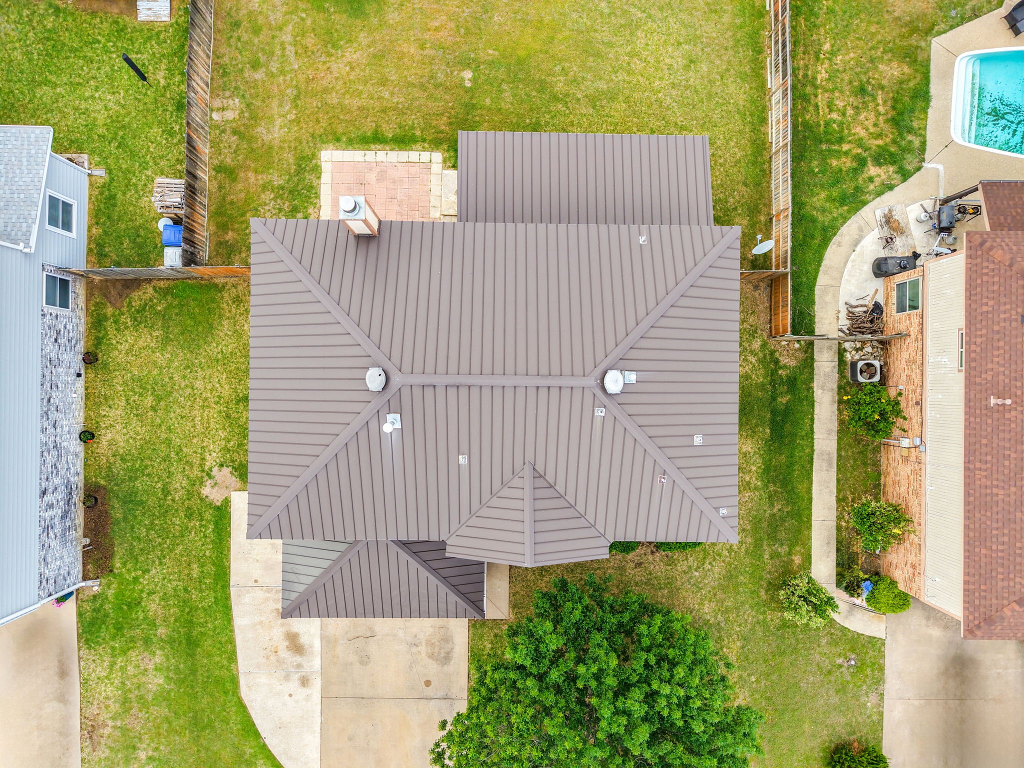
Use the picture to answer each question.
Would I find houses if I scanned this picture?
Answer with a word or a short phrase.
Yes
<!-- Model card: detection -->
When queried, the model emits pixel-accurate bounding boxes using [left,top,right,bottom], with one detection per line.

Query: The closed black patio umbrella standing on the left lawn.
[121,51,153,87]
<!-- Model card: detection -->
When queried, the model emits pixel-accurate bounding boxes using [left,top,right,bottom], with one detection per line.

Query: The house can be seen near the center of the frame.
[247,130,742,620]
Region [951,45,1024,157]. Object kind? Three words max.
swimming pool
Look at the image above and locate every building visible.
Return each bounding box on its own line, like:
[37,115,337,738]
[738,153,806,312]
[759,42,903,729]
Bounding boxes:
[247,130,742,620]
[0,124,94,626]
[880,178,1024,640]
